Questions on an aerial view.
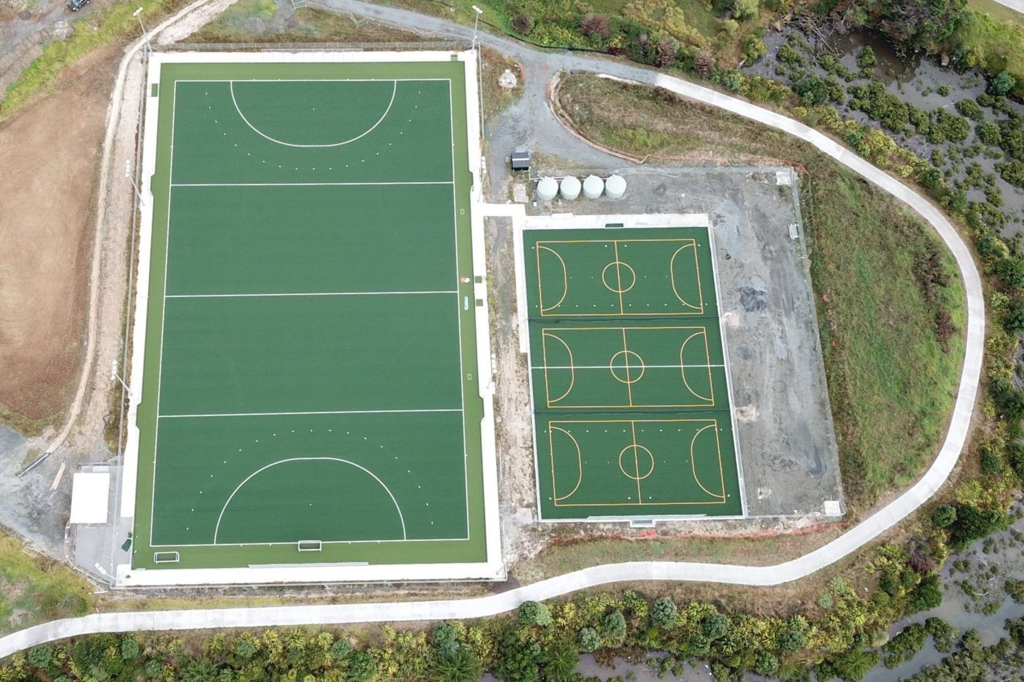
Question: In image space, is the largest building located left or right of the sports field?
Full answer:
Relative to the sports field, the largest building is on the left.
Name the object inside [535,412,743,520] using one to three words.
sports court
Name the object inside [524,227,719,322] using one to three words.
sports court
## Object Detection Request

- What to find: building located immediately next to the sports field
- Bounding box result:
[70,466,112,525]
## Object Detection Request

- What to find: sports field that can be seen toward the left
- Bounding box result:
[131,60,487,571]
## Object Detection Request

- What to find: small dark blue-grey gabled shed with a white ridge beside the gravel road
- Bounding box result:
[512,152,529,171]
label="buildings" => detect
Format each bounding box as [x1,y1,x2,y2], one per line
[512,152,529,171]
[70,466,112,525]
